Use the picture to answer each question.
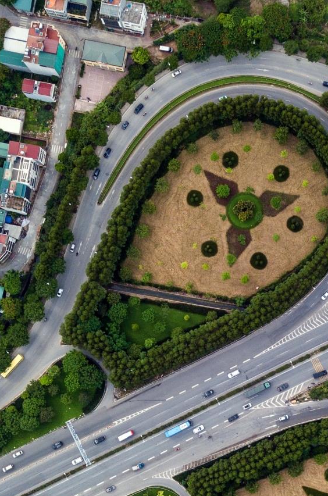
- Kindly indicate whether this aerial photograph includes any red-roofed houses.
Yes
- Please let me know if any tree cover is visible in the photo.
Yes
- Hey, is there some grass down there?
Yes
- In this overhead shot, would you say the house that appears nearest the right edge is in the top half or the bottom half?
top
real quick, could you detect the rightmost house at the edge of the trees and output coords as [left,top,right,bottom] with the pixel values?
[121,1,153,40]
